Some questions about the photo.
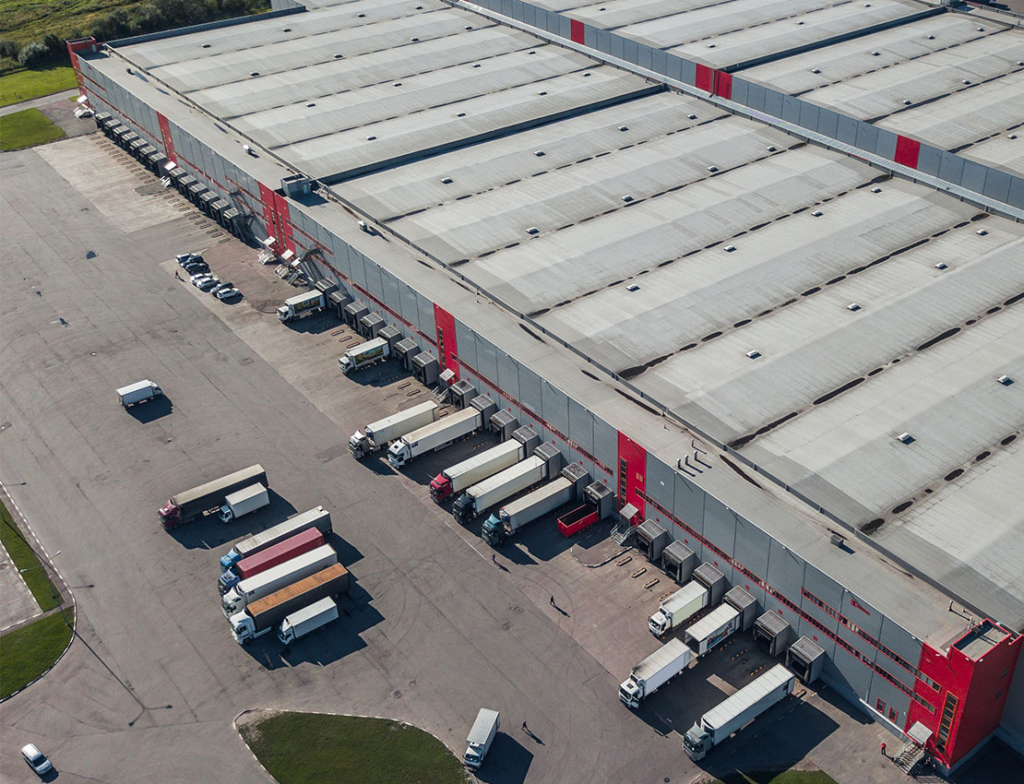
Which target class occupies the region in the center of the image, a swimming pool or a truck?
truck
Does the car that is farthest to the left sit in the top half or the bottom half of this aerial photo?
bottom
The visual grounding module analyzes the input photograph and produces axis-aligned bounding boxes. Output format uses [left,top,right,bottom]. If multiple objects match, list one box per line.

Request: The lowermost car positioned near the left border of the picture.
[22,741,51,775]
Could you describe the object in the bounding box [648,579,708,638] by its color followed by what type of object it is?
white truck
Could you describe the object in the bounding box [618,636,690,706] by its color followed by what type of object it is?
white truck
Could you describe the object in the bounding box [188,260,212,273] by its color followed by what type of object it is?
black vehicle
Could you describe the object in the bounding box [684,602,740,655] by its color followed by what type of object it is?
white trailer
